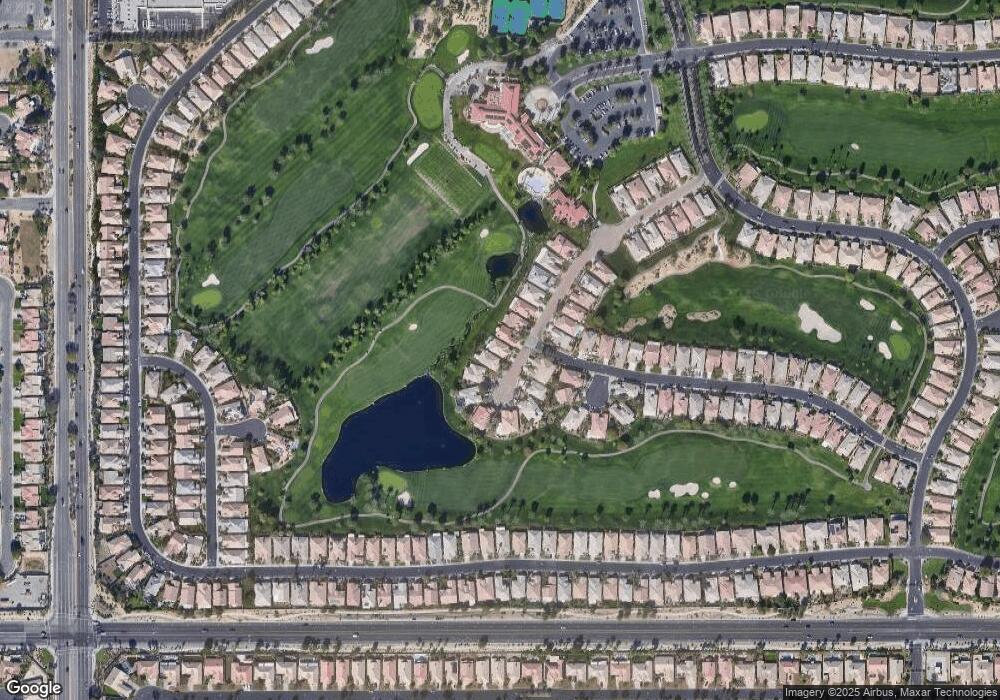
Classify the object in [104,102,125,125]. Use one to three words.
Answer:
house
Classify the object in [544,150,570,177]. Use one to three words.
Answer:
building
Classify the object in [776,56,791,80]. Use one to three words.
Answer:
house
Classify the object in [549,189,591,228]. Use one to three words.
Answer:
building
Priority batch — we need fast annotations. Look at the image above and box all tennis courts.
[547,0,565,20]
[491,0,509,31]
[509,0,528,34]
[530,0,547,18]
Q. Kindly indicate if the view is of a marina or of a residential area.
residential area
